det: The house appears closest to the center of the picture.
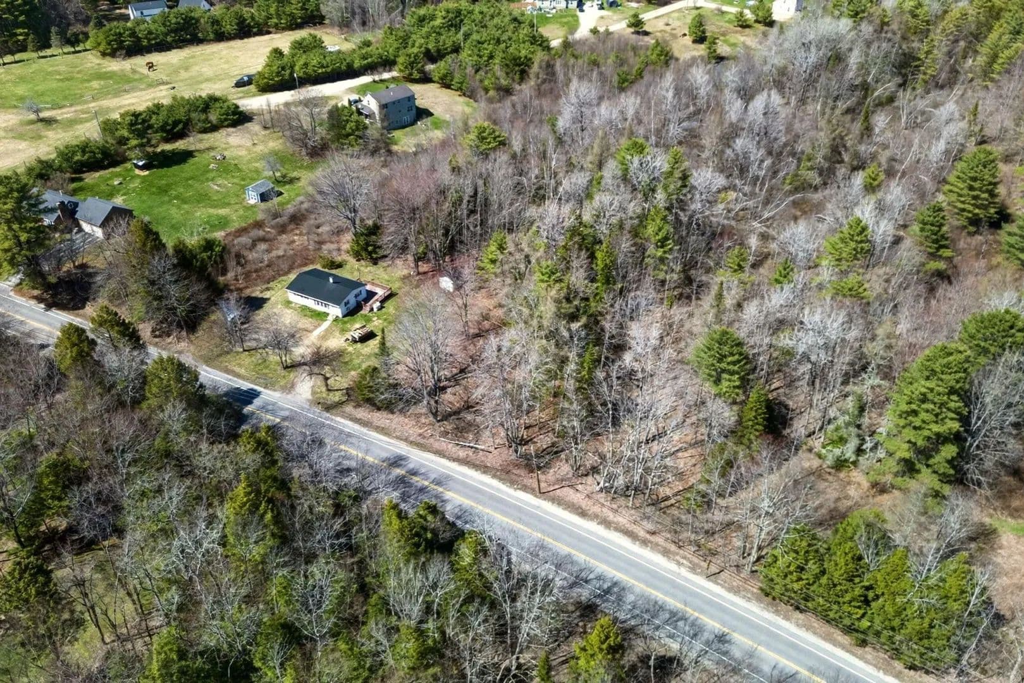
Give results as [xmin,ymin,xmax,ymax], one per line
[283,267,390,321]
